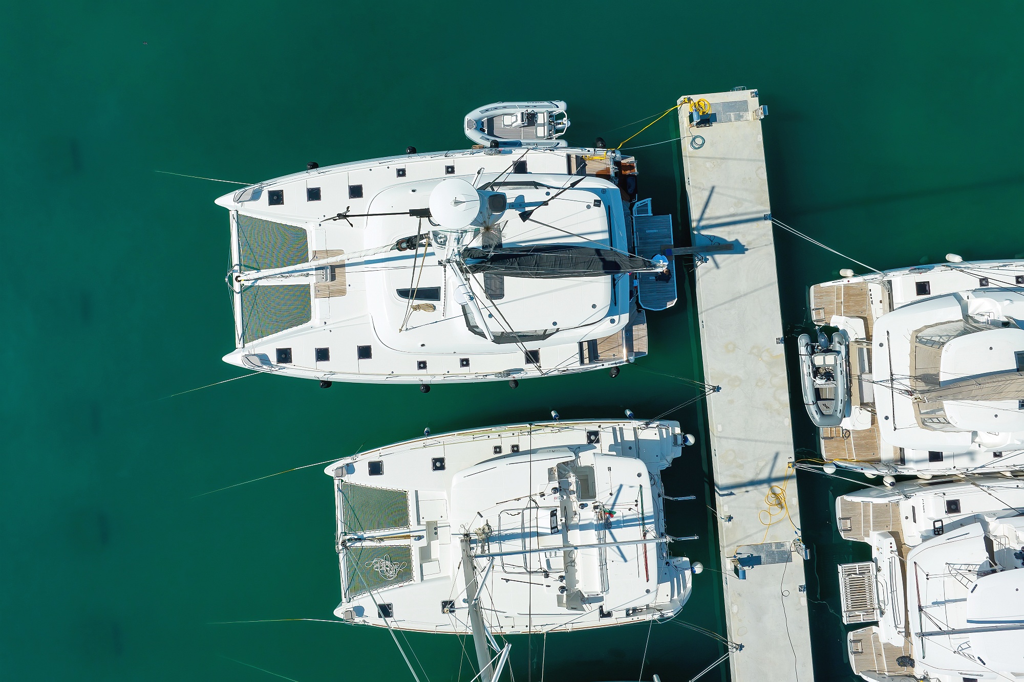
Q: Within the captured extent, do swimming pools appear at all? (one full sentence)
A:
No, the photo shows no swimming pool.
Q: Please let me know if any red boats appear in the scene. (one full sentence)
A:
No, I can't see a single red boat in this photo.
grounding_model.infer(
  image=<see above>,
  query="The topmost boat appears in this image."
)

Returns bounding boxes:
[465,100,570,148]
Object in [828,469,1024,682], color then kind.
white boat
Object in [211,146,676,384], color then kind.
white boat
